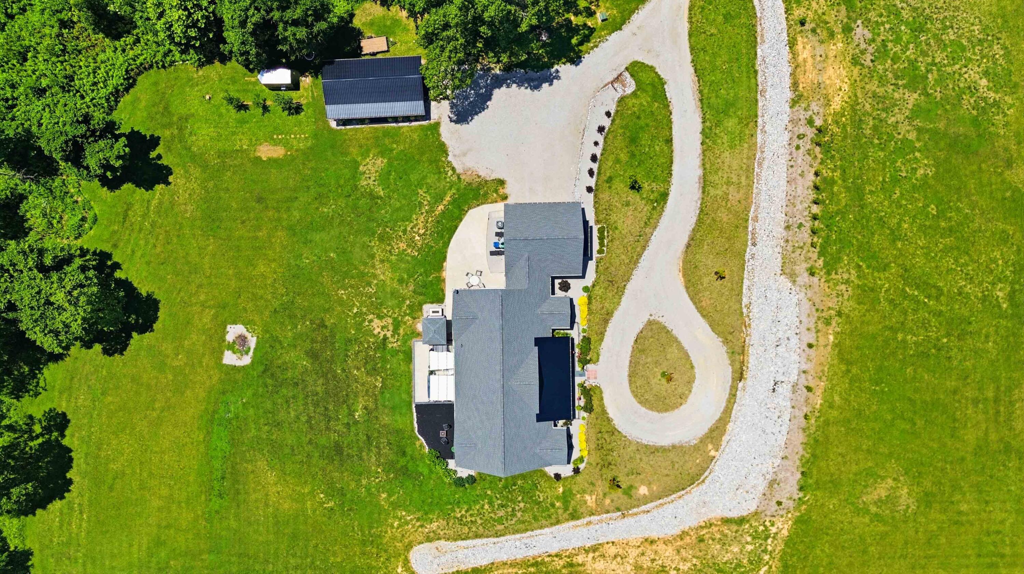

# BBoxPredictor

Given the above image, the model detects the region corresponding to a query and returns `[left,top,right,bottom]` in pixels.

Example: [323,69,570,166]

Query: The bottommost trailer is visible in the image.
[255,69,294,89]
